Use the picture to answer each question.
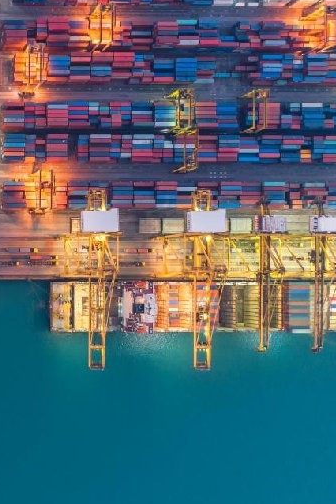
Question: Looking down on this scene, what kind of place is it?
port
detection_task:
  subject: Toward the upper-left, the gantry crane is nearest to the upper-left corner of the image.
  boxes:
[21,46,45,97]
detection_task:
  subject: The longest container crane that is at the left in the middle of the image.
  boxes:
[55,188,122,369]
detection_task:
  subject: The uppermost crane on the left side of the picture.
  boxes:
[92,0,116,53]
